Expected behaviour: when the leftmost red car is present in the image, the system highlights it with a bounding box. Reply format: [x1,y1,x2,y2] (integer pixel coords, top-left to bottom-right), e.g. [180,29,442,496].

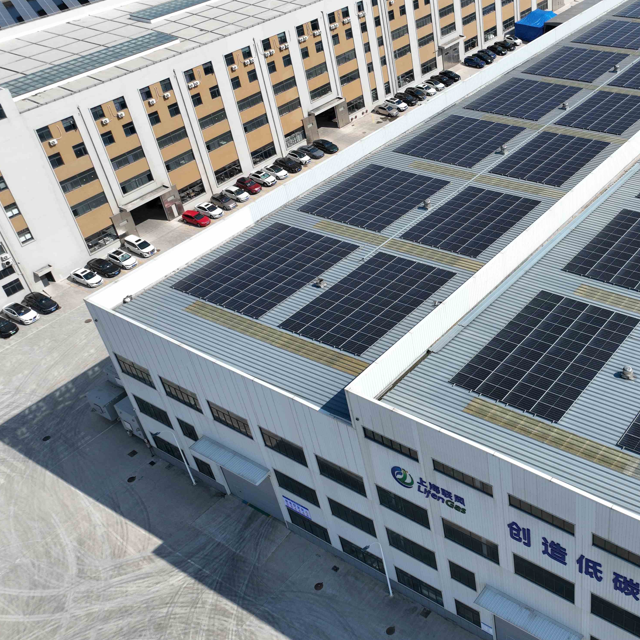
[183,210,211,229]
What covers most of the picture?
buildings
